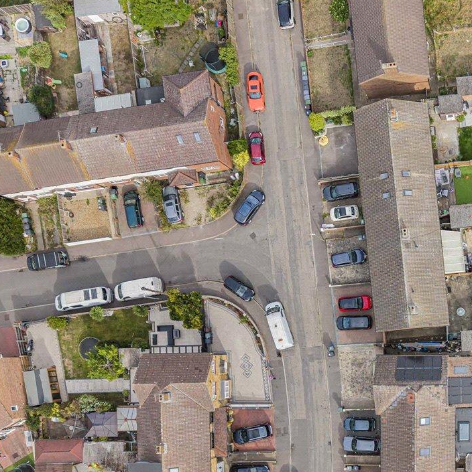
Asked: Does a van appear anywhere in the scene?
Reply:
Yes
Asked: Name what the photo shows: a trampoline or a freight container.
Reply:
trampoline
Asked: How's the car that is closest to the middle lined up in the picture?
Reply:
diagonally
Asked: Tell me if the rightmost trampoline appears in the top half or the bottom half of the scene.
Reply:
top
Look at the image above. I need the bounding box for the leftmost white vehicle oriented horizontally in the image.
[60,287,109,311]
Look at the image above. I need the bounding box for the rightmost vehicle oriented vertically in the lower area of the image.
[265,301,294,350]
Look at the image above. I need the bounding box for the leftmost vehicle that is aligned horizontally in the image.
[27,251,71,271]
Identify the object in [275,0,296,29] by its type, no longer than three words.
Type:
car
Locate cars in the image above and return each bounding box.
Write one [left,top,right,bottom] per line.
[343,415,376,432]
[331,248,366,267]
[336,314,372,332]
[247,132,266,166]
[232,188,266,228]
[246,71,266,113]
[162,186,184,224]
[230,464,271,472]
[321,181,360,202]
[122,189,147,229]
[231,422,274,445]
[222,273,256,304]
[275,0,296,29]
[330,205,360,222]
[343,436,379,453]
[27,251,71,271]
[338,294,373,312]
